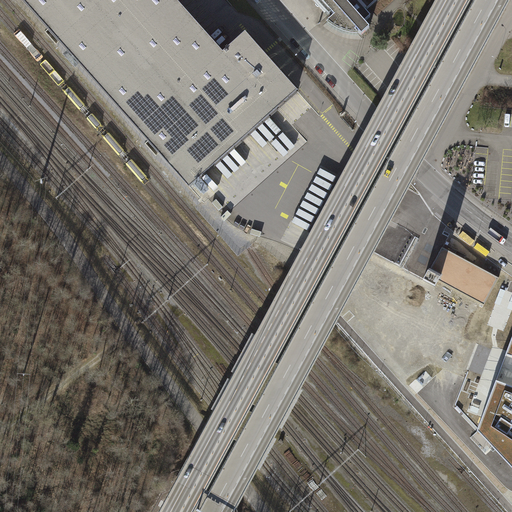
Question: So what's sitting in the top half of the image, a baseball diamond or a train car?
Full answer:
The feature located in the top half of the image is a train car.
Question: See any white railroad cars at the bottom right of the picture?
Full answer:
No, no white railroad car can be made out at the bottom right of the picture.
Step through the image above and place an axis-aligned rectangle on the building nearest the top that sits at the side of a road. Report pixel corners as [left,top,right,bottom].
[321,0,377,40]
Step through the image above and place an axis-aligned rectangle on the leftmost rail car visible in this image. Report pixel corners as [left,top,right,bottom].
[14,30,44,62]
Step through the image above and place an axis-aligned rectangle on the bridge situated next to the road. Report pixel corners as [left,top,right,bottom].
[160,0,472,512]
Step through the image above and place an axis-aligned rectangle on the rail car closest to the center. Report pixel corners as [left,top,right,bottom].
[125,158,150,186]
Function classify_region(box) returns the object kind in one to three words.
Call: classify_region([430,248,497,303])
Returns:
building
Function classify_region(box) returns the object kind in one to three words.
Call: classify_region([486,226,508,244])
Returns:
vehicle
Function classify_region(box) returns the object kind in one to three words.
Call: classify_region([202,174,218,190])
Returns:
vehicle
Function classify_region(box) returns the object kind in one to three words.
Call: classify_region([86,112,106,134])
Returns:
rail car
